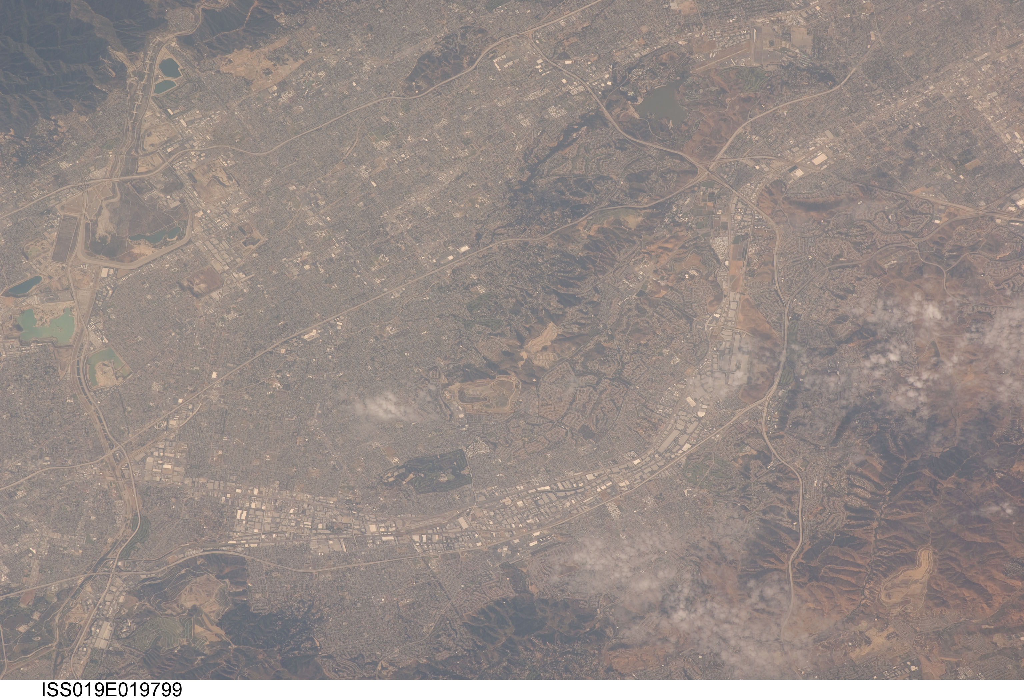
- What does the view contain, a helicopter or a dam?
dam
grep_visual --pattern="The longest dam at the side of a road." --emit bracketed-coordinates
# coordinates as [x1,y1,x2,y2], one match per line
[78,201,193,268]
